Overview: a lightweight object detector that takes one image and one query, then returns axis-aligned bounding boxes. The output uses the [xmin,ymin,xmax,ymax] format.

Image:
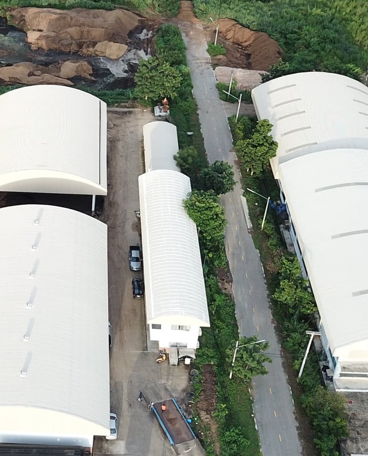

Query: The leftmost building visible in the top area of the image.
[0,80,108,214]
